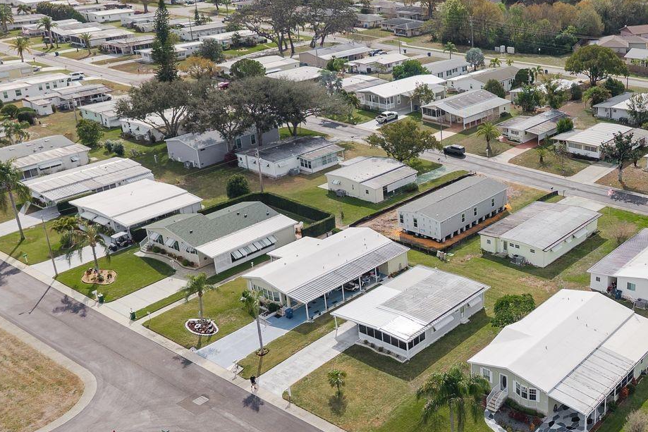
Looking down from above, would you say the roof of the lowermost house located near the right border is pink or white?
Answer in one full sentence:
From above, the roof of the lowermost house located near the right border appears white.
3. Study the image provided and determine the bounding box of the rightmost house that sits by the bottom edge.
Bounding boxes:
[466,289,648,432]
